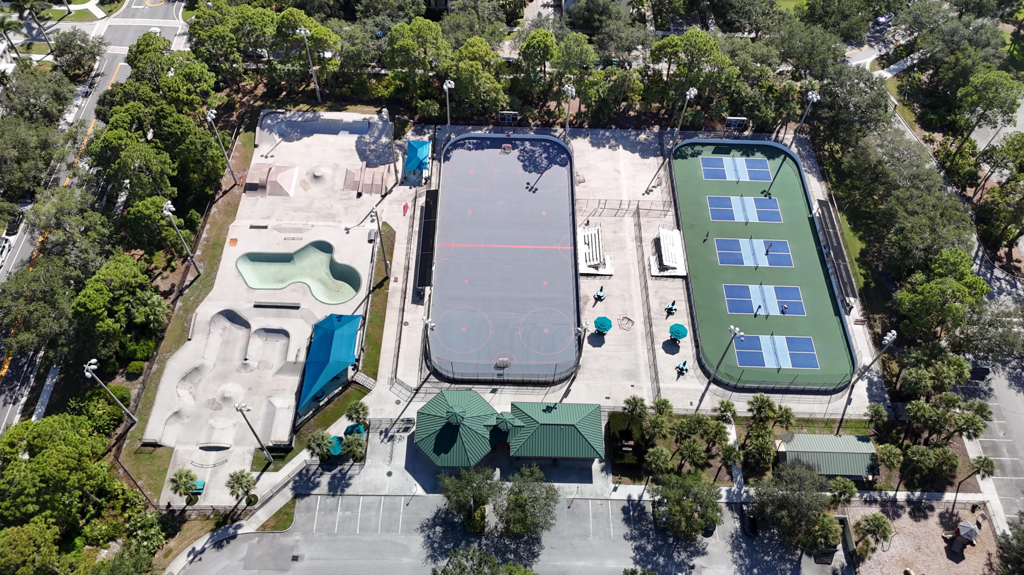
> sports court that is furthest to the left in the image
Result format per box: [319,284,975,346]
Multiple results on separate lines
[427,132,582,385]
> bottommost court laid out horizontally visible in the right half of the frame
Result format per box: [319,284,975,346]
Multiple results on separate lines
[733,331,820,369]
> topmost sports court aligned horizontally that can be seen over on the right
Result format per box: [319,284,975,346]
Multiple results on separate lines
[700,154,773,181]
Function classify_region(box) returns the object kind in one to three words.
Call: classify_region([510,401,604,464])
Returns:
building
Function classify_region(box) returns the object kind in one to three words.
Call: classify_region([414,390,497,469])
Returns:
building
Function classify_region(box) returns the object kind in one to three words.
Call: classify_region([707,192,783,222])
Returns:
sports court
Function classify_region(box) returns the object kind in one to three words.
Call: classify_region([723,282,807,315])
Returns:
sports court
